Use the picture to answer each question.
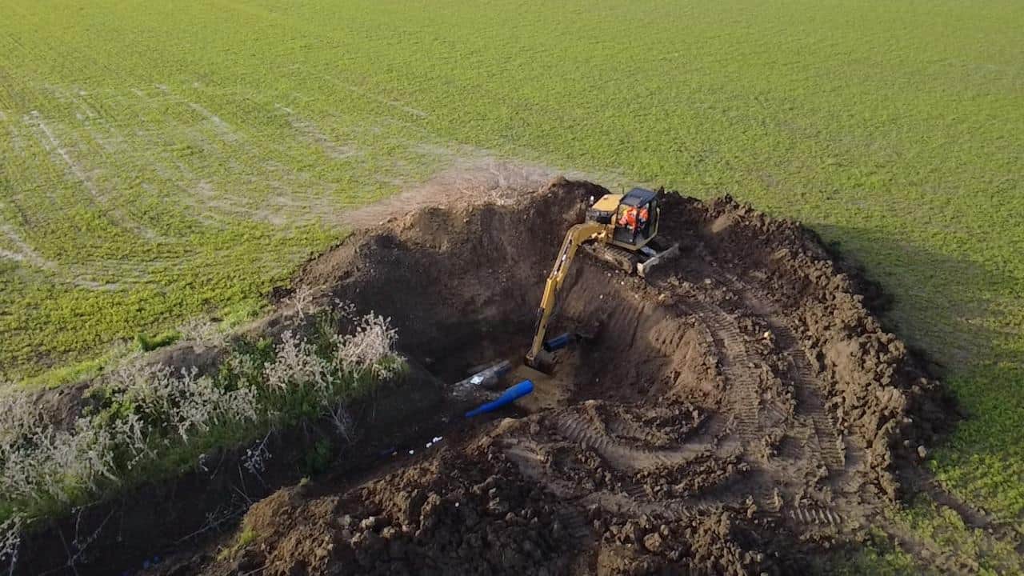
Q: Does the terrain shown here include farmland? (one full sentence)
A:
Yes, farmland can be seen from above here.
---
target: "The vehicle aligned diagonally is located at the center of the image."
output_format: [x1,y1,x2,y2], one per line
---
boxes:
[514,182,683,379]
